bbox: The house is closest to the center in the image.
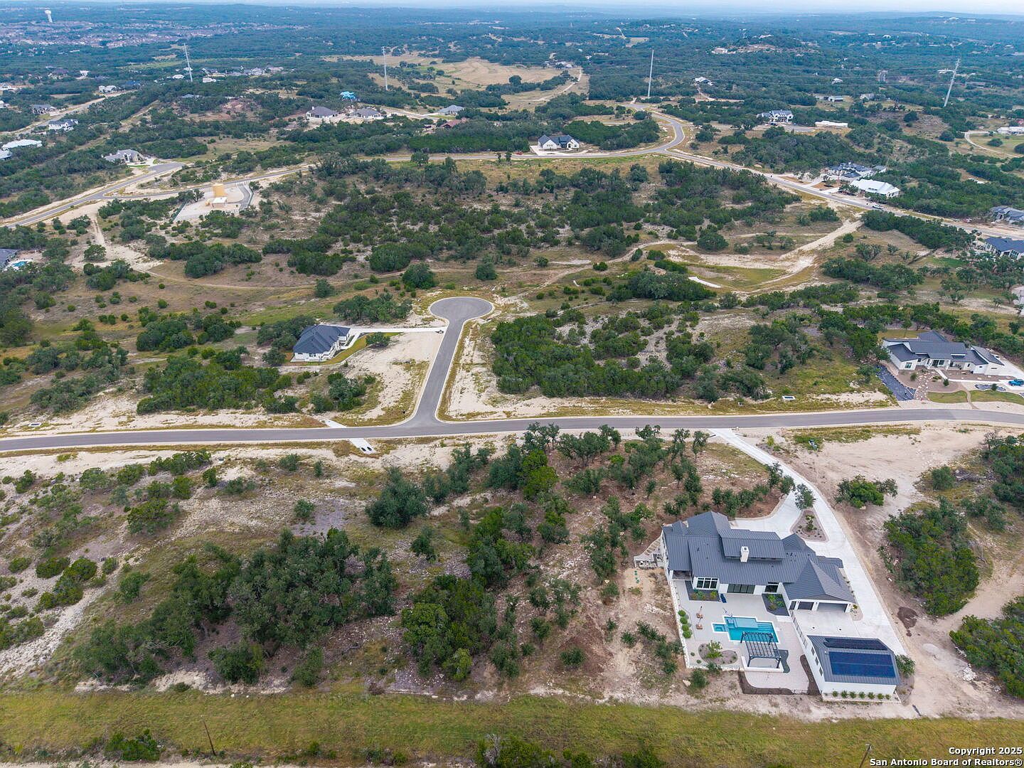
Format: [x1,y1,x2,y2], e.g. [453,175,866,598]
[291,320,356,360]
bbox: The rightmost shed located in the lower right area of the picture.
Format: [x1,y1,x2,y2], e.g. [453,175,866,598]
[804,635,900,696]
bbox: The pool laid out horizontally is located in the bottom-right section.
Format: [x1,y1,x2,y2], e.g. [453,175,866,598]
[709,615,781,645]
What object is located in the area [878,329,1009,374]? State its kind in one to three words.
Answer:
house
